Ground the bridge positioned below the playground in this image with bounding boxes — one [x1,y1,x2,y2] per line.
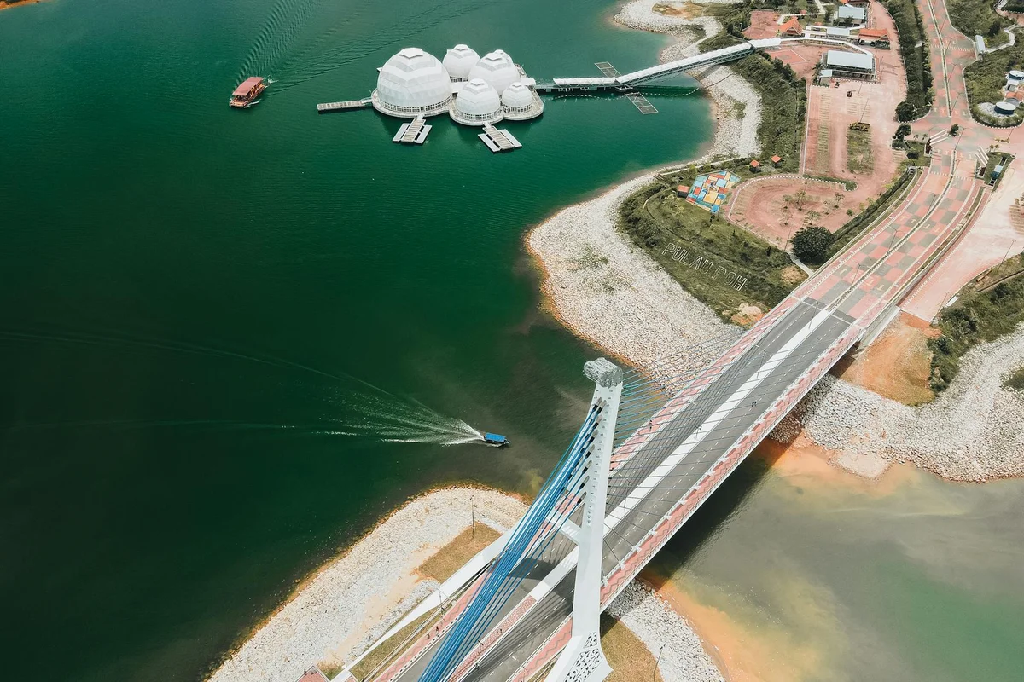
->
[356,292,865,682]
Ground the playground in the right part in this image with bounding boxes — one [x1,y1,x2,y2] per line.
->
[687,165,741,216]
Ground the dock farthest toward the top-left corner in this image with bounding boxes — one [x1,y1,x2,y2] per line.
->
[317,96,376,111]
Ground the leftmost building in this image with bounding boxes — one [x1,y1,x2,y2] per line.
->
[370,43,545,128]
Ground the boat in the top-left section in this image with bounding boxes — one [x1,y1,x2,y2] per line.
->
[233,79,265,105]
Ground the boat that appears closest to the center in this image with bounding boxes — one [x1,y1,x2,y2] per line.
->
[484,434,510,446]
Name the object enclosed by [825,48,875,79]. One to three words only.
building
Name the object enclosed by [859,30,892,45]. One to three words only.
building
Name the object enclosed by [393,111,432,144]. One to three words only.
pier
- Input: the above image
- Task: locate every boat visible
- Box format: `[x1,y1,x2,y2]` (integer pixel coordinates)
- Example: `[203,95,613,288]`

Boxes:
[484,434,510,446]
[233,79,265,105]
